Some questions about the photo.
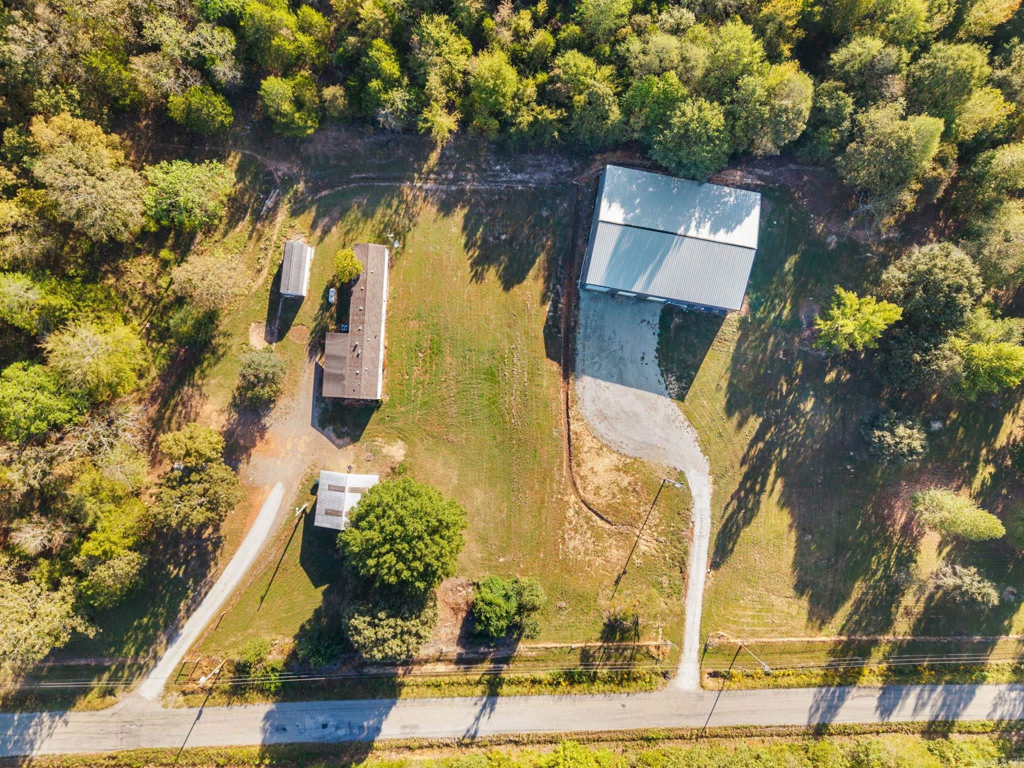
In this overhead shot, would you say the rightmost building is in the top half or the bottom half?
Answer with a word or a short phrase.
top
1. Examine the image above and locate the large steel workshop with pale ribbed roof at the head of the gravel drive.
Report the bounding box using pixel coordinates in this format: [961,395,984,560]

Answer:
[582,163,762,319]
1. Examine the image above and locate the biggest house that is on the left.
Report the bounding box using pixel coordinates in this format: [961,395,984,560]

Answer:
[322,243,389,408]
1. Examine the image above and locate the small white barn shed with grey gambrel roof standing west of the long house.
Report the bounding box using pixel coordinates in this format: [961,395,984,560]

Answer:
[280,241,315,299]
